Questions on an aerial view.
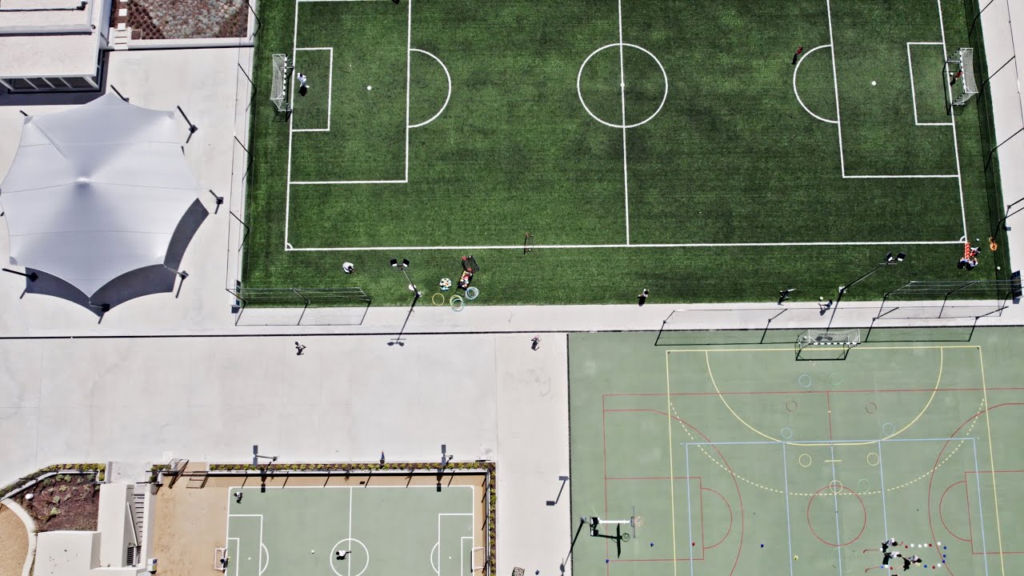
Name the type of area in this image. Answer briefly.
sports ground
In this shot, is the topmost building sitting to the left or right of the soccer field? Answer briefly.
left of it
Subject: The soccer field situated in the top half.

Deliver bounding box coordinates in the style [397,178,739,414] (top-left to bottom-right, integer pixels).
[243,0,1010,309]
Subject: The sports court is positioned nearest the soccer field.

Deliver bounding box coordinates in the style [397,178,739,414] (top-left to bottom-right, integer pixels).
[569,327,1024,576]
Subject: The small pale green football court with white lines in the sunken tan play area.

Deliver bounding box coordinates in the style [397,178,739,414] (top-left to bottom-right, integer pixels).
[225,484,474,576]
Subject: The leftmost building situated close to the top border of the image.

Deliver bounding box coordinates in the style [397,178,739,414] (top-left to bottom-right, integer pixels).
[0,0,109,94]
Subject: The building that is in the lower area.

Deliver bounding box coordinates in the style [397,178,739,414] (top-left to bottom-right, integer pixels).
[32,530,101,576]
